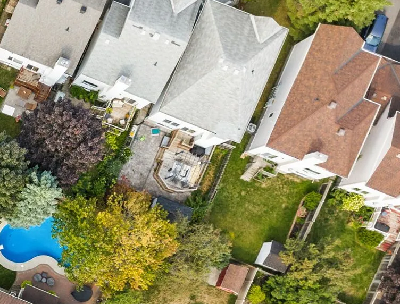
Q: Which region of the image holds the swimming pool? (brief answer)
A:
bottom left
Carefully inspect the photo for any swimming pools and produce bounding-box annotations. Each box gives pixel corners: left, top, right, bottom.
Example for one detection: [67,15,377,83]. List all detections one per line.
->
[0,216,74,265]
